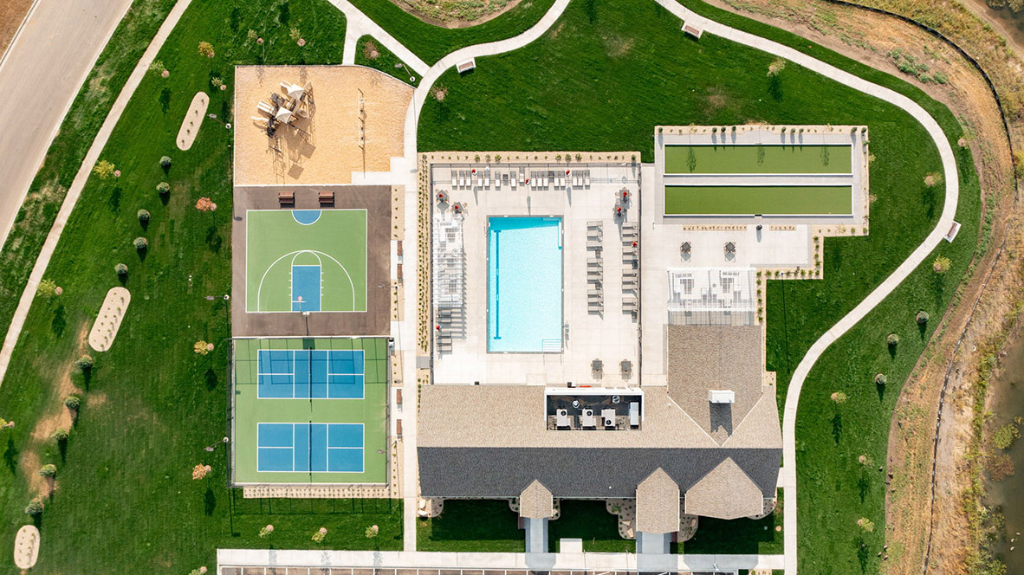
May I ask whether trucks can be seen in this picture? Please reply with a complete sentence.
No, there's no truck here.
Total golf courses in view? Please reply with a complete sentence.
No golf courses are visible.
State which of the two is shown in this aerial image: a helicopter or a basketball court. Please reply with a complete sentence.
There is a basketball court in the scene.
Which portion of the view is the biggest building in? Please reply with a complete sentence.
You can find the biggest building in the bottom area of the picture.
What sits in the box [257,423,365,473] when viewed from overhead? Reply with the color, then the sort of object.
blue sports court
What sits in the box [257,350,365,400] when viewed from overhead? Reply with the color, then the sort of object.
blue sports court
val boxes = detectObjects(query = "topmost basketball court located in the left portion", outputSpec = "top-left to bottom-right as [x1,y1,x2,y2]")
[233,185,390,336]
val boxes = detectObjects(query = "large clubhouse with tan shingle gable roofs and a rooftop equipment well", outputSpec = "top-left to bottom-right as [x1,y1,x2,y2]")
[417,325,785,537]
